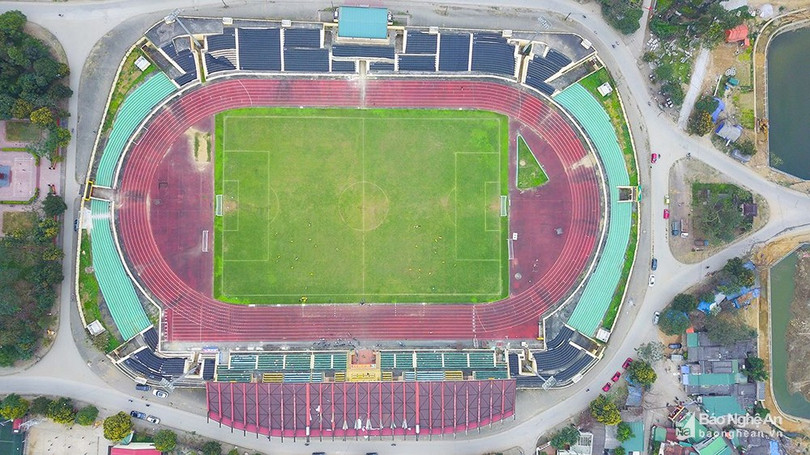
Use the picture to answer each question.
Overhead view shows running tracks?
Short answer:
Yes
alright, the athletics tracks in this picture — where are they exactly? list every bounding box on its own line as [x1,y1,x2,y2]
[116,79,600,344]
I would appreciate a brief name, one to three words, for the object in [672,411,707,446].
house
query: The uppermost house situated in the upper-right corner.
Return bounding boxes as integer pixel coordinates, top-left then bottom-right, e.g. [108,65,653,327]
[721,25,752,51]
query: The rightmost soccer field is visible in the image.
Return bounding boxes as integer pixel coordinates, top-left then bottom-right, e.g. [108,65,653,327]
[213,108,509,305]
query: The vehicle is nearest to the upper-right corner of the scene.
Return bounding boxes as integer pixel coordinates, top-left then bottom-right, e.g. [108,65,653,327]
[757,112,770,131]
